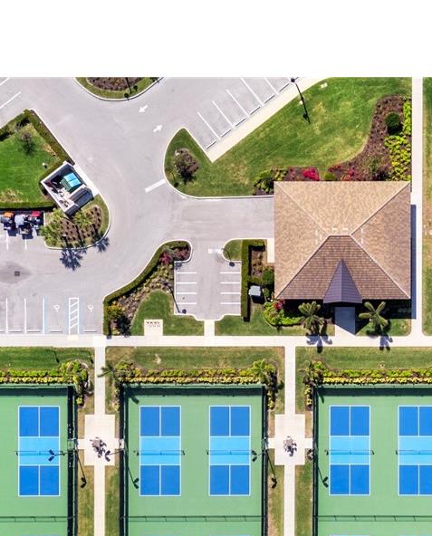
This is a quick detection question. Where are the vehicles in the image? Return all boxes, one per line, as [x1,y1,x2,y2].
[28,211,42,230]
[0,213,15,231]
[14,214,28,231]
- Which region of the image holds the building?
right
